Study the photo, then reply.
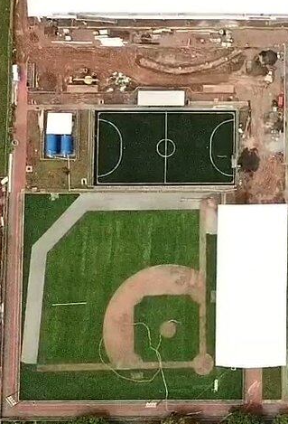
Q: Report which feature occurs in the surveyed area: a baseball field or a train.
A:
baseball field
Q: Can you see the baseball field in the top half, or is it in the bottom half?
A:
bottom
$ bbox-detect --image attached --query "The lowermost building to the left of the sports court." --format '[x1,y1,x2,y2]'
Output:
[46,113,75,134]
